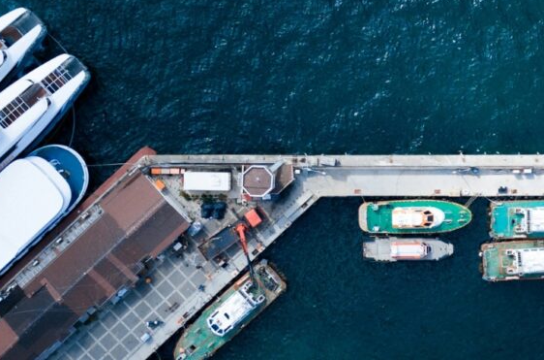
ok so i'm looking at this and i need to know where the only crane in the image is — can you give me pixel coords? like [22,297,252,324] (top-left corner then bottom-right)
[232,219,262,295]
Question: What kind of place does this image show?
port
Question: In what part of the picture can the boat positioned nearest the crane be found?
bottom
